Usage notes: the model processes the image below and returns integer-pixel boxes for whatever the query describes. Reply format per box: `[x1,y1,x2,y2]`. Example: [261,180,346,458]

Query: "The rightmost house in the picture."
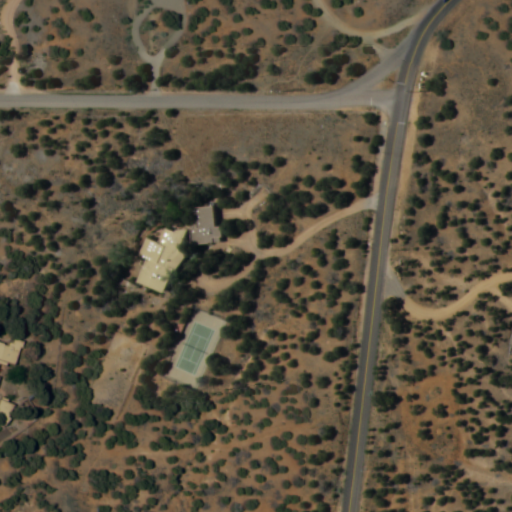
[191,206,221,244]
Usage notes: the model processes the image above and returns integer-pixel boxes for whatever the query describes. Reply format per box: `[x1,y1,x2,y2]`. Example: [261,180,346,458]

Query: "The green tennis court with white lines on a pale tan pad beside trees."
[171,311,226,388]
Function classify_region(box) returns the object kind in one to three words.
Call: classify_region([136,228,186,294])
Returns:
house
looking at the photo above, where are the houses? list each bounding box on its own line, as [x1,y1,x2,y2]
[0,340,24,366]
[136,228,186,294]
[0,397,15,426]
[191,206,221,244]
